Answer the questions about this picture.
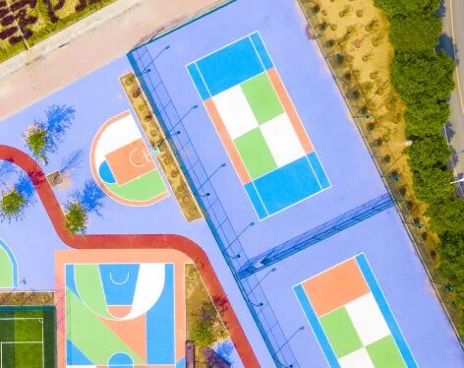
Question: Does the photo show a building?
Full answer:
No, there's no building here.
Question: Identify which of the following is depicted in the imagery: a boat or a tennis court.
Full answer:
It is a tennis court that can be seen here.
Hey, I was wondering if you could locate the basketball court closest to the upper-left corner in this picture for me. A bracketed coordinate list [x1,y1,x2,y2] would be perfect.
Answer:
[90,108,170,205]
